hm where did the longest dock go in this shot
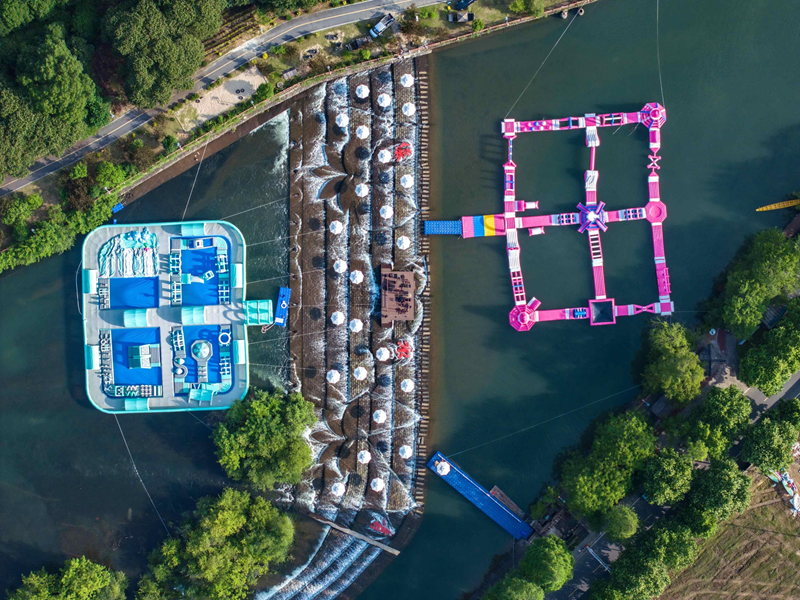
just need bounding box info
[427,452,527,538]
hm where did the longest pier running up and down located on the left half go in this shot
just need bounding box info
[274,287,291,326]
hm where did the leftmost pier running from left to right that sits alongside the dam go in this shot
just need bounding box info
[424,220,462,234]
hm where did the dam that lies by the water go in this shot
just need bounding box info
[259,51,431,600]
